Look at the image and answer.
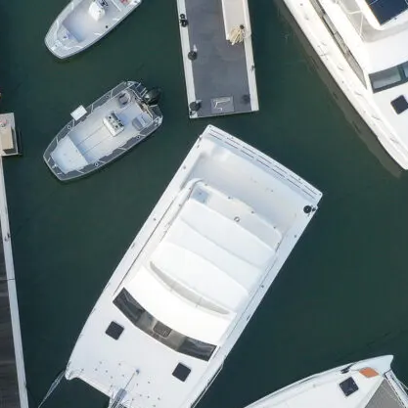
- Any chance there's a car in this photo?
No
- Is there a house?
No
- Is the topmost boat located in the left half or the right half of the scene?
left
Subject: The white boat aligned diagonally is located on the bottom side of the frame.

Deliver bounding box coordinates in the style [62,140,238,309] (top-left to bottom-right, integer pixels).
[39,125,322,408]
